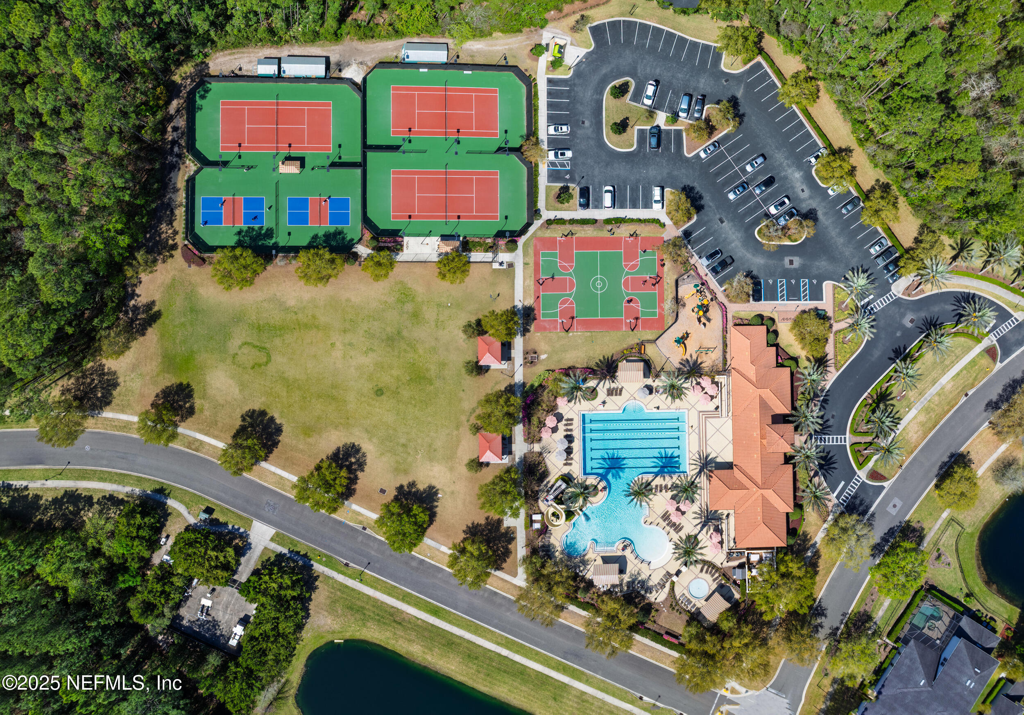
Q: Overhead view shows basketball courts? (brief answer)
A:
Yes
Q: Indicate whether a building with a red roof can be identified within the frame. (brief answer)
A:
Yes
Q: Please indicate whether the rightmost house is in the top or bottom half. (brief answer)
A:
bottom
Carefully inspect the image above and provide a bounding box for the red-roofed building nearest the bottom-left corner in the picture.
[479,432,507,462]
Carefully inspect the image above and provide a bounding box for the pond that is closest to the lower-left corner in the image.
[297,640,530,715]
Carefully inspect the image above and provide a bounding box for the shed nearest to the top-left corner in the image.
[256,59,281,81]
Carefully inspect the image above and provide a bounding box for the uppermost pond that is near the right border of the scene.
[976,492,1024,613]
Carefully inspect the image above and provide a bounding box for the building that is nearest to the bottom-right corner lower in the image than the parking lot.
[854,614,1024,715]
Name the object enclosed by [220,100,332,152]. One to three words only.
tennis court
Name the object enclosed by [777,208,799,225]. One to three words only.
car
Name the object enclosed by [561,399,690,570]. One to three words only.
swimming pool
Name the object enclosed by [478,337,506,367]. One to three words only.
building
